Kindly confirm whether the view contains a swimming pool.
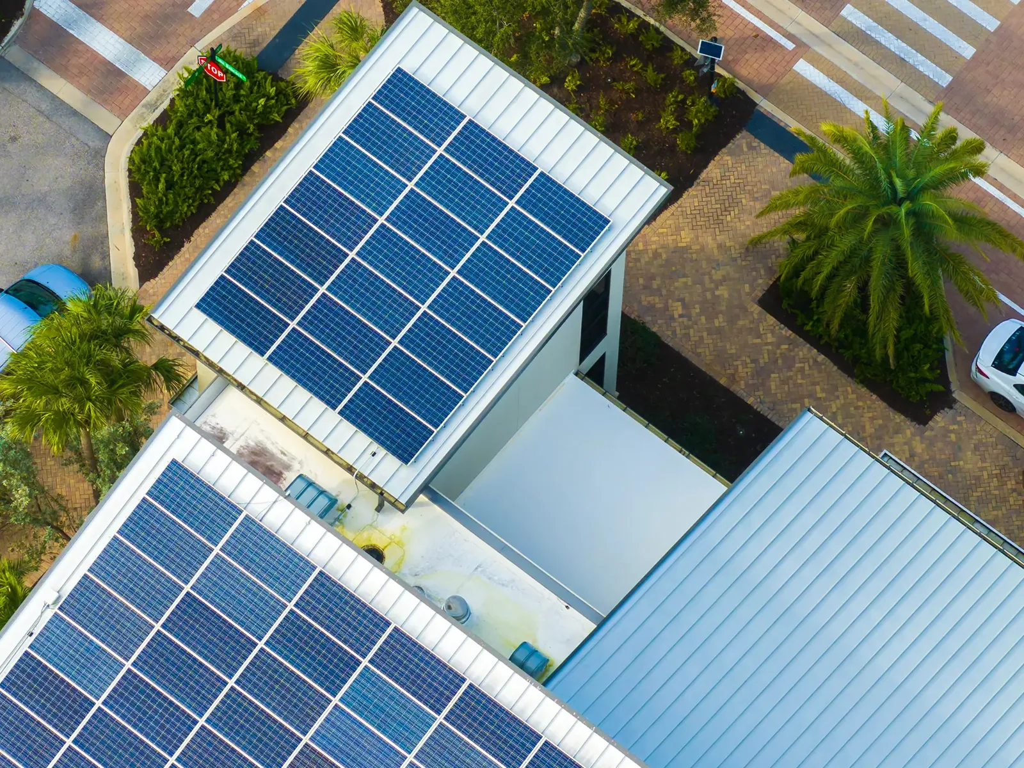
No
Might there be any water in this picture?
No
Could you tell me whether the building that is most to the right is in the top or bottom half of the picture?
bottom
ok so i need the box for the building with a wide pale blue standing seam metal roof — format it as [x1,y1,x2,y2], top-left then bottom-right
[543,405,1024,768]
